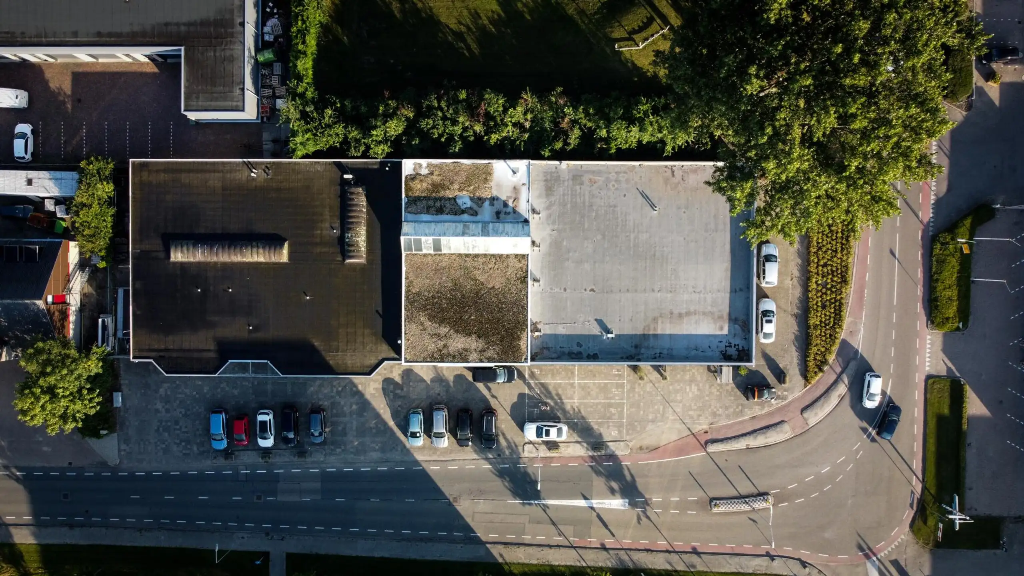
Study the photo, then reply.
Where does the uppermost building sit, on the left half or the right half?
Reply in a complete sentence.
It is on the left.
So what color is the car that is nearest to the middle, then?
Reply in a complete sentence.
The car that is nearest to the middle is black.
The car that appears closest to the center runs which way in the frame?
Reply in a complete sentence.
The car that appears closest to the center runs from side to side in the image.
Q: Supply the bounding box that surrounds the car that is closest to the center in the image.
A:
[472,366,517,386]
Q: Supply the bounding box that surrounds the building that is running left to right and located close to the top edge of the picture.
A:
[0,0,264,126]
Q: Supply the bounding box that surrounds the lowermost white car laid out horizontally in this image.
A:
[523,422,568,443]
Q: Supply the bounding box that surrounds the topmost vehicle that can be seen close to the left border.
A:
[0,87,30,111]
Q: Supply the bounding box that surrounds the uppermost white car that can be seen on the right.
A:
[757,243,780,287]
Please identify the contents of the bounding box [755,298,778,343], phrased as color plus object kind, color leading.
white car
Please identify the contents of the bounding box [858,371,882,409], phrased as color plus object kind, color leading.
white car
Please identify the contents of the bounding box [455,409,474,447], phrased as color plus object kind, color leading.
black car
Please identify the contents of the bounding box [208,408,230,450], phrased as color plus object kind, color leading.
blue car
